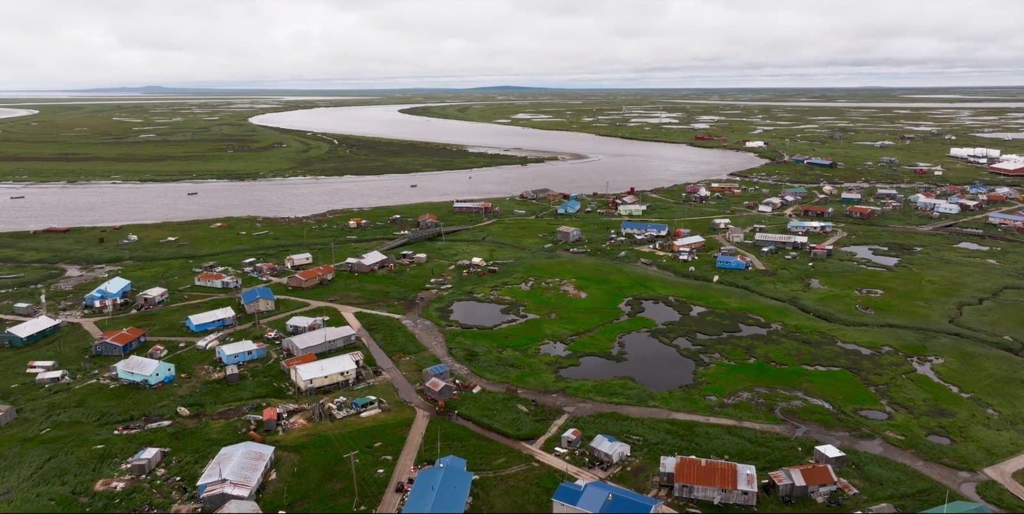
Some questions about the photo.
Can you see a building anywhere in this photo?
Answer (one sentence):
Yes, there is a building in the image.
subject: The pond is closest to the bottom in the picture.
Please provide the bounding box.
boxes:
[452,242,997,443]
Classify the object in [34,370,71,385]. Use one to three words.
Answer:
shed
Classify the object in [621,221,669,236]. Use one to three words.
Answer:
building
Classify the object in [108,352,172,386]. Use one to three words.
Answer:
house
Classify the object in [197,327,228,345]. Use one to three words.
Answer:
boat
